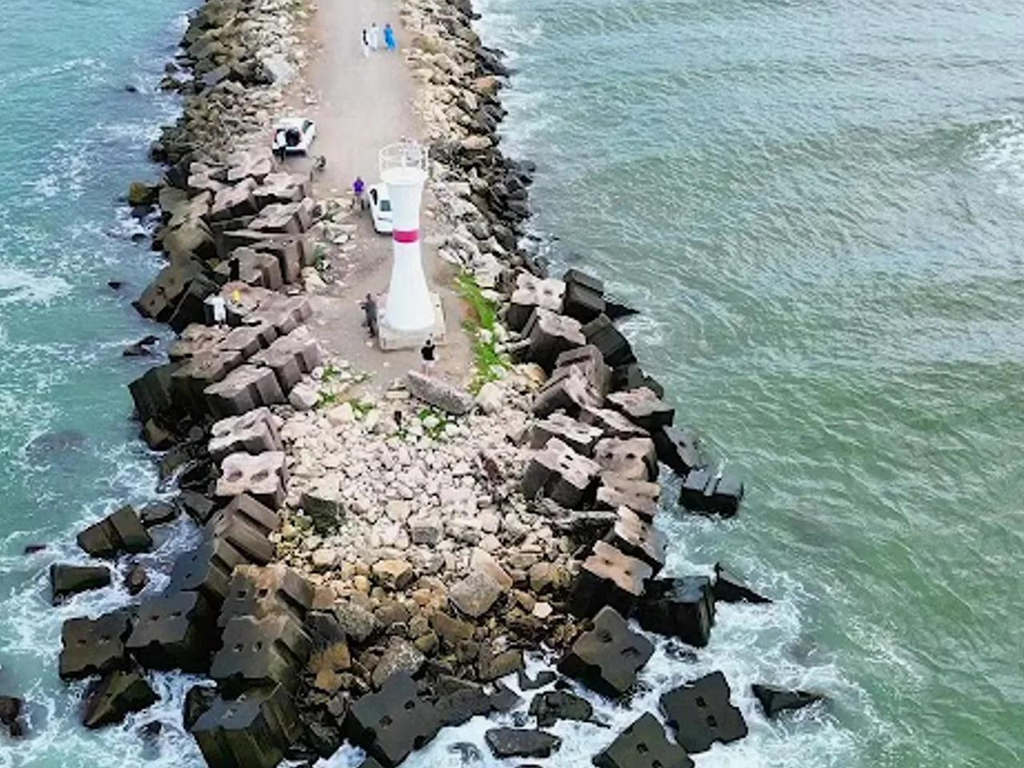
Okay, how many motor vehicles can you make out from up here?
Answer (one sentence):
In total, 2 motor vehicles can be seen.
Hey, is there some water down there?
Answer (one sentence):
Yes, some water is visible.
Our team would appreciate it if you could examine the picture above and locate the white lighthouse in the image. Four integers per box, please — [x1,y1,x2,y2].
[377,132,444,352]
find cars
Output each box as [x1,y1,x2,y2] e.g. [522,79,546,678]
[270,114,322,157]
[371,187,395,236]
